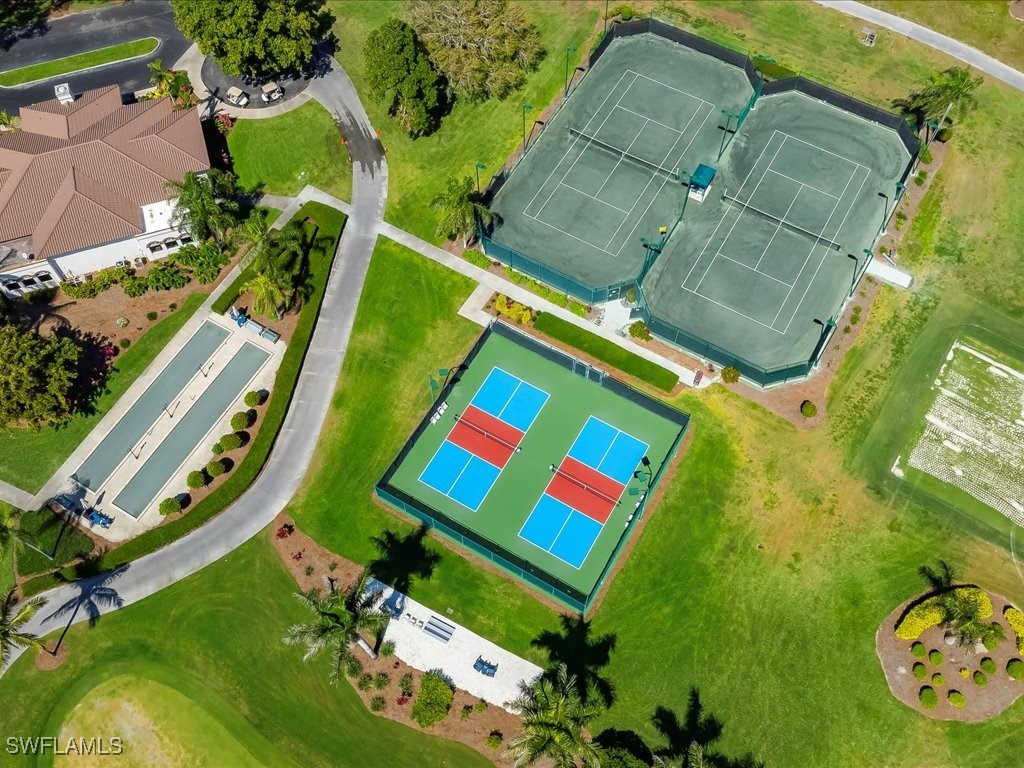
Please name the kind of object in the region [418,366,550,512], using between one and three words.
sports court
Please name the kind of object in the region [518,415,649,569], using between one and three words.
sports court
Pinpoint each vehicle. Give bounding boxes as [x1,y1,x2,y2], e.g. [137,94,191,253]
[261,78,284,103]
[224,81,247,107]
